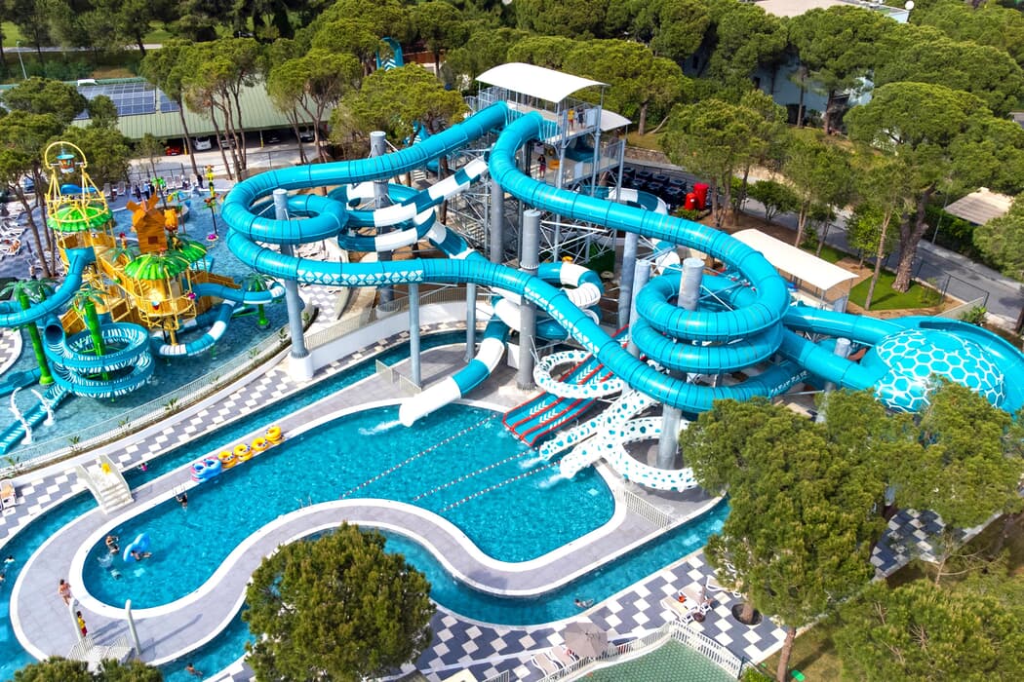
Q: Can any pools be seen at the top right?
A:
No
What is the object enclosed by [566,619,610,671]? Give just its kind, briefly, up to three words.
umbrella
